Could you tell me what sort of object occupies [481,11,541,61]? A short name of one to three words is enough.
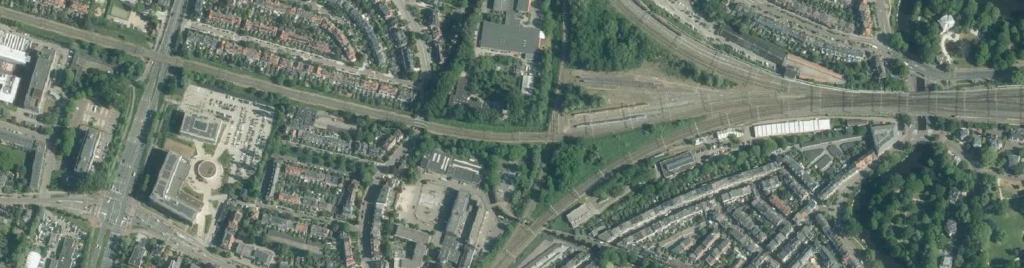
building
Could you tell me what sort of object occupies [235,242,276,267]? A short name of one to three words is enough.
building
